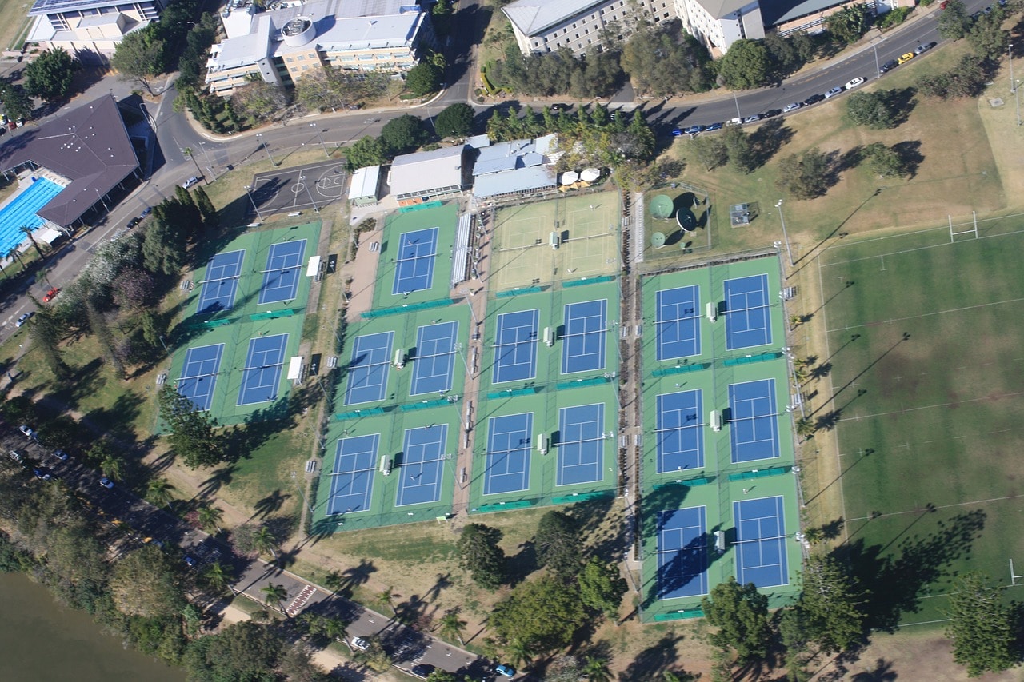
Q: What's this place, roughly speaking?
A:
sports ground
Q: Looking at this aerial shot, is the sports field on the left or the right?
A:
right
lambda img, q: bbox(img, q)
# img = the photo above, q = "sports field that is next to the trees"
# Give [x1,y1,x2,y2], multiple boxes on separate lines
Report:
[819,218,1024,645]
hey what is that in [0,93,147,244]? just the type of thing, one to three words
building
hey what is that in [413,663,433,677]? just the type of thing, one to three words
car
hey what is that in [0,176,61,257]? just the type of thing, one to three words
swimming pool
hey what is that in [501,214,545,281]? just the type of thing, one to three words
tennis court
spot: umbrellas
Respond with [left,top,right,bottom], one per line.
[580,168,601,183]
[561,172,580,185]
